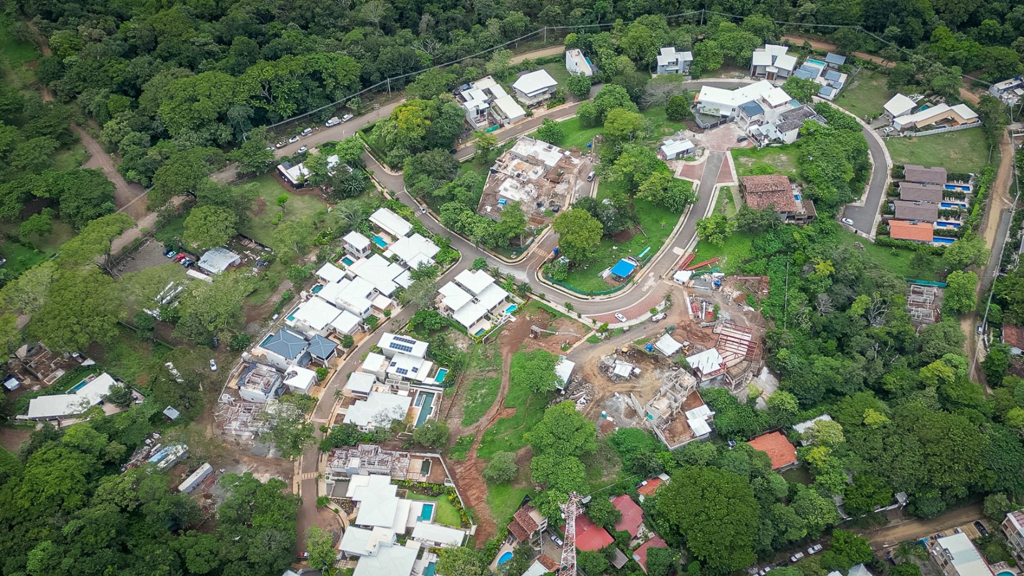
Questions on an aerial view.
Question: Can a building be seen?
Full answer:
Yes, you can see a building in this photo.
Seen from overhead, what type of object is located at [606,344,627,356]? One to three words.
vehicle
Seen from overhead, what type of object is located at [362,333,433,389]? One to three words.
house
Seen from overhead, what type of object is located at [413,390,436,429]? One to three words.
swimming pool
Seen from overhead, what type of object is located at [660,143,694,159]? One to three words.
shed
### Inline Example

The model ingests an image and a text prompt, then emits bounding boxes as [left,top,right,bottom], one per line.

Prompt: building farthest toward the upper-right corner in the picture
[987,75,1024,106]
